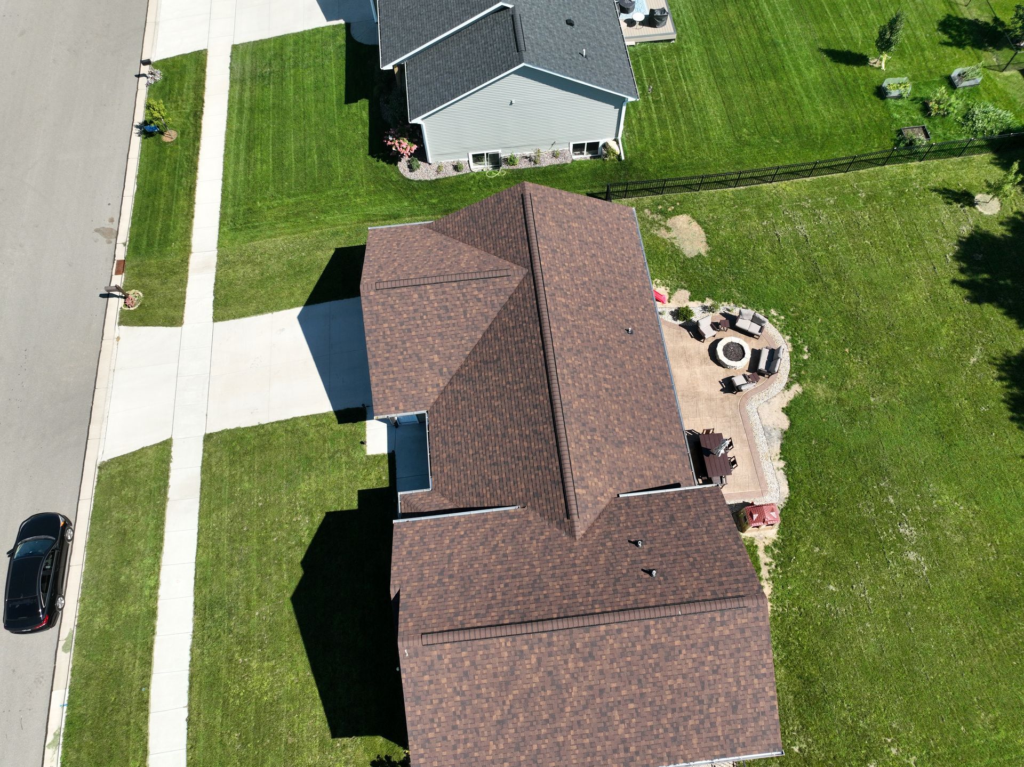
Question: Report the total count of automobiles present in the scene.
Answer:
1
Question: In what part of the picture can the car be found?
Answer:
bottom left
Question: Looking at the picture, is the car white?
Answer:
No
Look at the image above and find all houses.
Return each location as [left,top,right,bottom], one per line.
[359,179,783,767]
[365,0,642,171]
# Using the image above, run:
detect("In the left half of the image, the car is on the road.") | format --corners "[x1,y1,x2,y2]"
[3,512,76,632]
